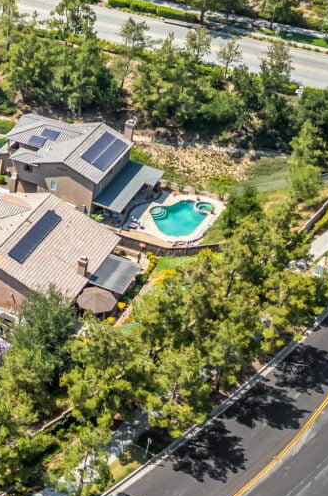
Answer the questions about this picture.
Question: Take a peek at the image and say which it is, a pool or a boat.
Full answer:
Looking from above, you can make out a pool.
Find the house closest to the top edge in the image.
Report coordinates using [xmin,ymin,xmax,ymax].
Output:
[0,113,165,226]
